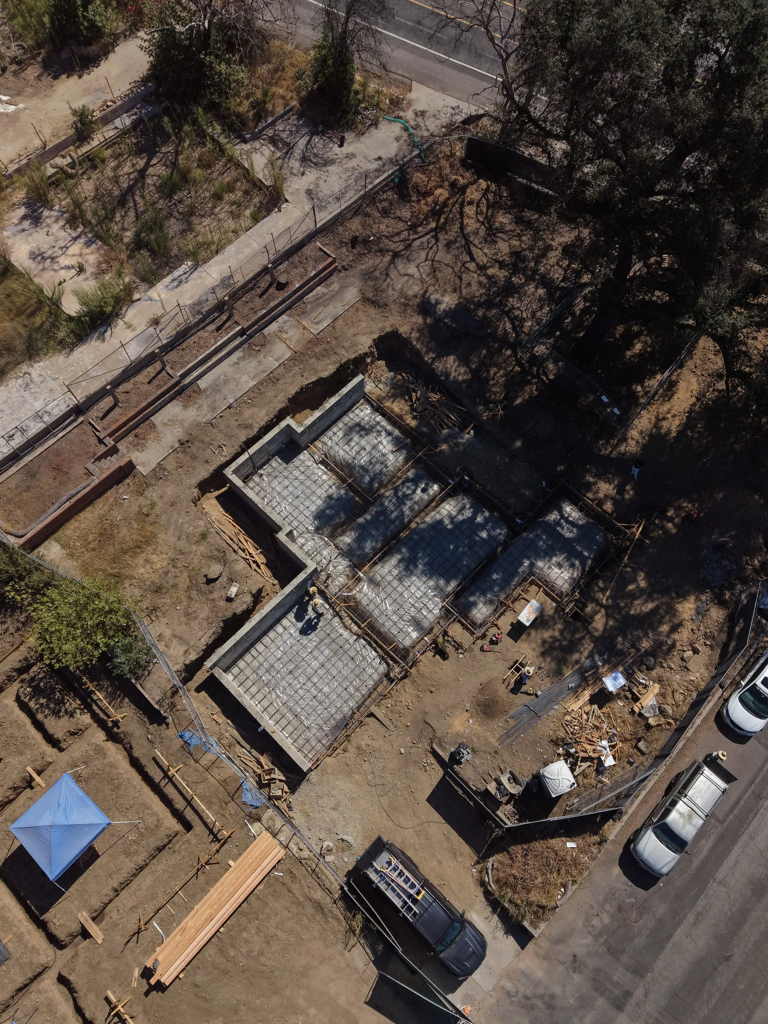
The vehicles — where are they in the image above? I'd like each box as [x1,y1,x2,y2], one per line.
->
[726,659,768,742]
[627,749,741,875]
[355,834,492,983]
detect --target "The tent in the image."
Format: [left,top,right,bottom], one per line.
[9,765,141,897]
